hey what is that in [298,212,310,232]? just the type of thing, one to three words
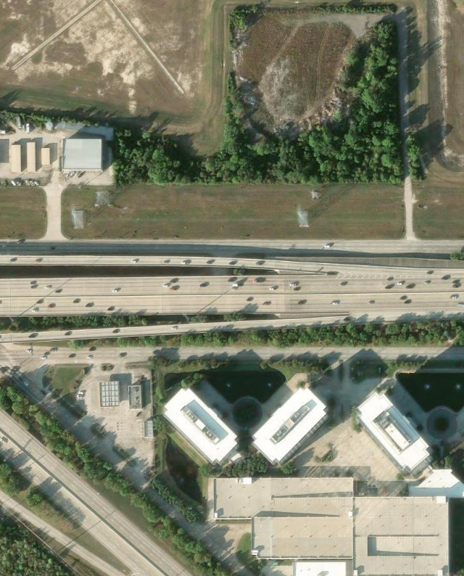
pylon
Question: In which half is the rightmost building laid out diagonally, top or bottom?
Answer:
bottom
